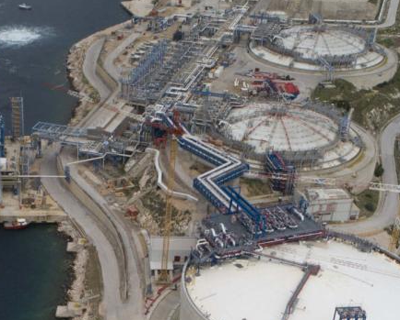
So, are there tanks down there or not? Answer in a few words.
Yes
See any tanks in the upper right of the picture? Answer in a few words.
Yes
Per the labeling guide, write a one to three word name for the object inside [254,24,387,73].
storage tank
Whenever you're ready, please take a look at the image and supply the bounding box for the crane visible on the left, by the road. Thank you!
[32,72,202,289]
